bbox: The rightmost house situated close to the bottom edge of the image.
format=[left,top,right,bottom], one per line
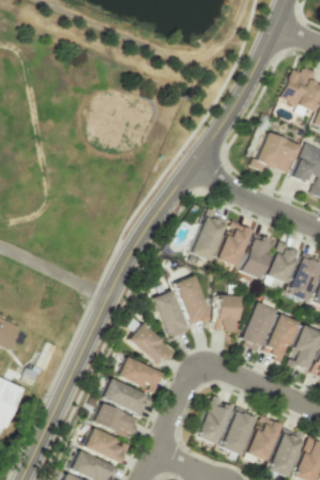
[296,436,320,480]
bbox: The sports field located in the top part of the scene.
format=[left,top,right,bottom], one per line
[79,88,154,156]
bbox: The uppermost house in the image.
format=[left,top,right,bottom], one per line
[279,65,320,114]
